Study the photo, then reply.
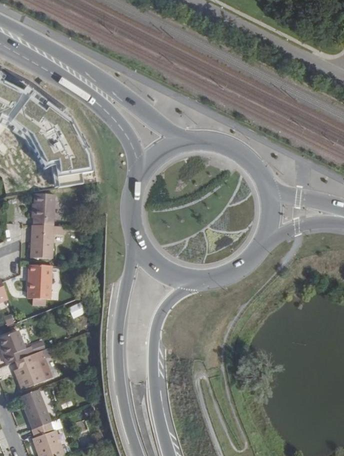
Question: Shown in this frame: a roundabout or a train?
roundabout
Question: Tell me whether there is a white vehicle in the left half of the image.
Yes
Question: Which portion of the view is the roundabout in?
center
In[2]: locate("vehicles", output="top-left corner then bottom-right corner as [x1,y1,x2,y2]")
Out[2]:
[134,230,142,240]
[138,240,148,251]
[118,334,123,344]
[149,263,160,273]
[134,180,140,198]
[234,259,244,267]
[4,230,10,240]
[124,96,136,106]
[56,76,94,104]
[11,262,16,272]
[331,200,344,207]
[7,38,18,47]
